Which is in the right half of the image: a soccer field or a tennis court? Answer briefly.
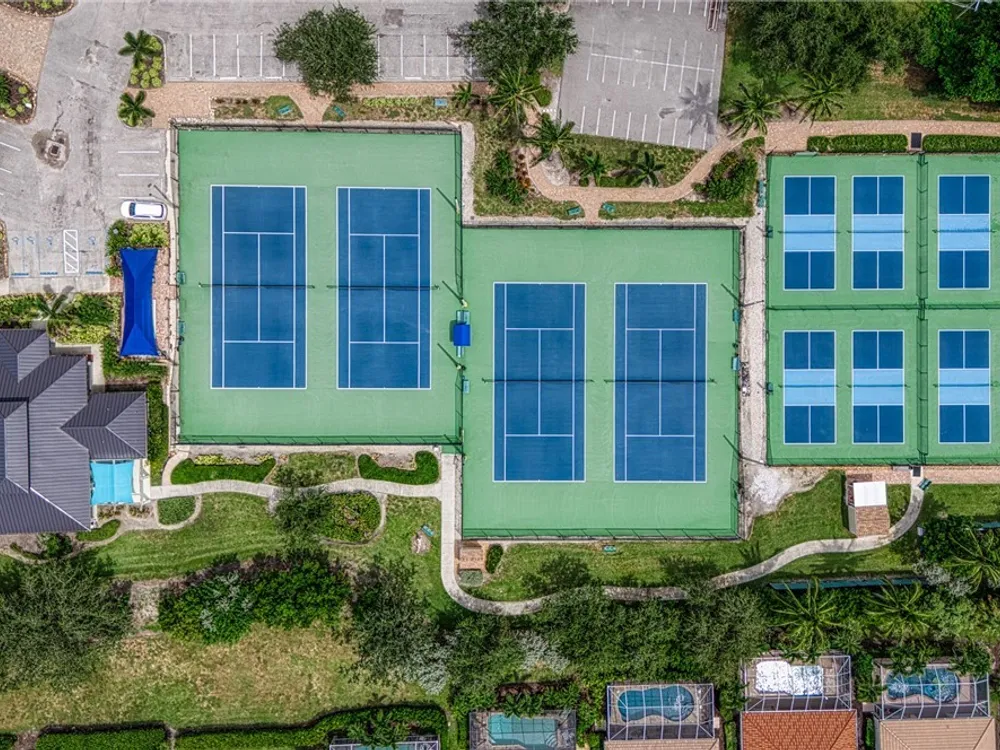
tennis court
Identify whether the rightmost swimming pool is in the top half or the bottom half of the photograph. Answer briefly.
bottom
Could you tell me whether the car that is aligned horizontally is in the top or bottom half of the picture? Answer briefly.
top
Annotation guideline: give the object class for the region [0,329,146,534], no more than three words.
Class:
building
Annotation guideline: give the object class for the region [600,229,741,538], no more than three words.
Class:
tennis court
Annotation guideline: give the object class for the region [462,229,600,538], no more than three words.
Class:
tennis court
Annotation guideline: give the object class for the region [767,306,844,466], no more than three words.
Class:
sports court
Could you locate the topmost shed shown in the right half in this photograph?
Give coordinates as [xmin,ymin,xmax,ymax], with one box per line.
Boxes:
[845,479,890,537]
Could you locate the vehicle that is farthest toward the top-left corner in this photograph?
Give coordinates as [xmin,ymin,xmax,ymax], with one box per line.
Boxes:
[121,199,167,221]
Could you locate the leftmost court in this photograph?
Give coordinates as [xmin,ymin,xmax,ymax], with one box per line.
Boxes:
[179,130,322,444]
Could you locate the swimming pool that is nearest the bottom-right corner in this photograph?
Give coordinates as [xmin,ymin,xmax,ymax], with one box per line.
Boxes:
[877,654,984,718]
